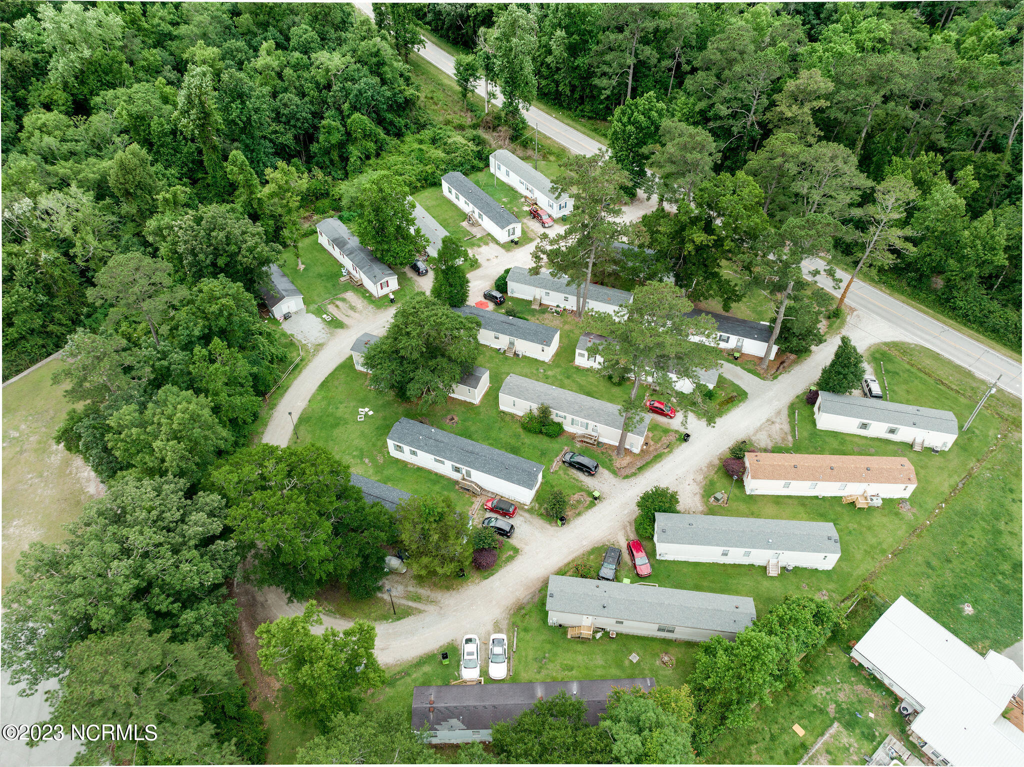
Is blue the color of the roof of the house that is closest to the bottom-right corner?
No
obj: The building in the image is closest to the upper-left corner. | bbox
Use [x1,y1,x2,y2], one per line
[260,267,306,319]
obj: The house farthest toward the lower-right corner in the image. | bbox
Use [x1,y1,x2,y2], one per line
[845,594,1024,767]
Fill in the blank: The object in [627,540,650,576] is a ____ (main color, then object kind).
red car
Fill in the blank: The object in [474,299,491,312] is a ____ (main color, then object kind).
red umbrella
